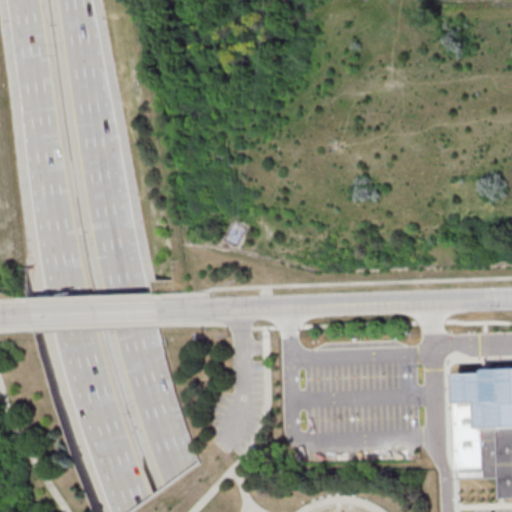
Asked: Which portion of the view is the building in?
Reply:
bottom right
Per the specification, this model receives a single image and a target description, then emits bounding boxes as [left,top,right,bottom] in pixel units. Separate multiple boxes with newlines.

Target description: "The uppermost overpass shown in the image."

[20,294,166,332]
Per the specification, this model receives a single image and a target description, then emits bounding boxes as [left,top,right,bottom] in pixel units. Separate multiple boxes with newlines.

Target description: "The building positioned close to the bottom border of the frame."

[449,368,512,498]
